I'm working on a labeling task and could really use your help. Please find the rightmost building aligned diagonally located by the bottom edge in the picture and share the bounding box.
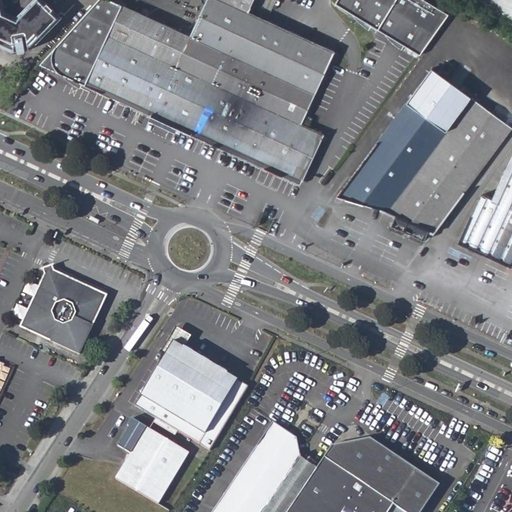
[326,438,440,512]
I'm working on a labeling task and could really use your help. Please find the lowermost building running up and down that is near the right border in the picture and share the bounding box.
[460,142,512,266]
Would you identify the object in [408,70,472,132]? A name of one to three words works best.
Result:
building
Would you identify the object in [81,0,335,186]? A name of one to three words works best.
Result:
warehouse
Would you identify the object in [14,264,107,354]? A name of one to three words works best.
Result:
building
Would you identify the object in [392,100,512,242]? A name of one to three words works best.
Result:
warehouse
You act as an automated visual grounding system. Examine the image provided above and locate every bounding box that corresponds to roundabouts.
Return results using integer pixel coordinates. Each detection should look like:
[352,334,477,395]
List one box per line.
[165,222,214,272]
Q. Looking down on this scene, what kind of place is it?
industrial area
